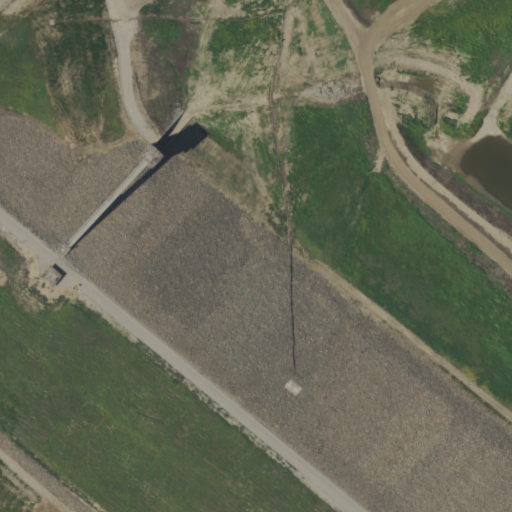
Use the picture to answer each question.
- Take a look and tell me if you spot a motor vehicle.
No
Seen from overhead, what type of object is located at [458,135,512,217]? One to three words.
pond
